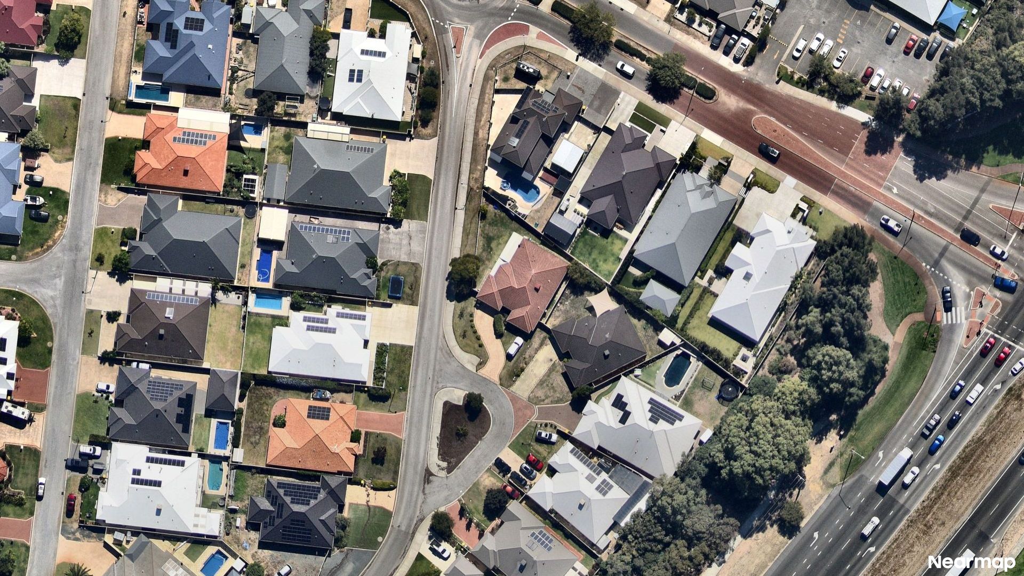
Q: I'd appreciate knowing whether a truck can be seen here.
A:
Yes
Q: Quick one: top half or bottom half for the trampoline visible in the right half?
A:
bottom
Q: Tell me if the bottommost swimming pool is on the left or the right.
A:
left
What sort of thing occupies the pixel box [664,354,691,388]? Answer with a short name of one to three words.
swimming pool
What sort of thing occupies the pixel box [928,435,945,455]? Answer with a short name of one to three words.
car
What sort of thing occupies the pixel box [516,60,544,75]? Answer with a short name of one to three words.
camper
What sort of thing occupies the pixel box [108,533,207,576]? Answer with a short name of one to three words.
house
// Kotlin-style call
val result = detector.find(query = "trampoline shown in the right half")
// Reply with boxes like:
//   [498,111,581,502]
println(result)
[720,380,740,400]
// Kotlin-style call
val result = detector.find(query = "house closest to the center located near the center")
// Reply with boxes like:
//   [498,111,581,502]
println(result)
[476,235,570,334]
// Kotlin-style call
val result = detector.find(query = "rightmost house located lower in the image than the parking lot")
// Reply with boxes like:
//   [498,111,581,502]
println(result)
[710,212,817,342]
